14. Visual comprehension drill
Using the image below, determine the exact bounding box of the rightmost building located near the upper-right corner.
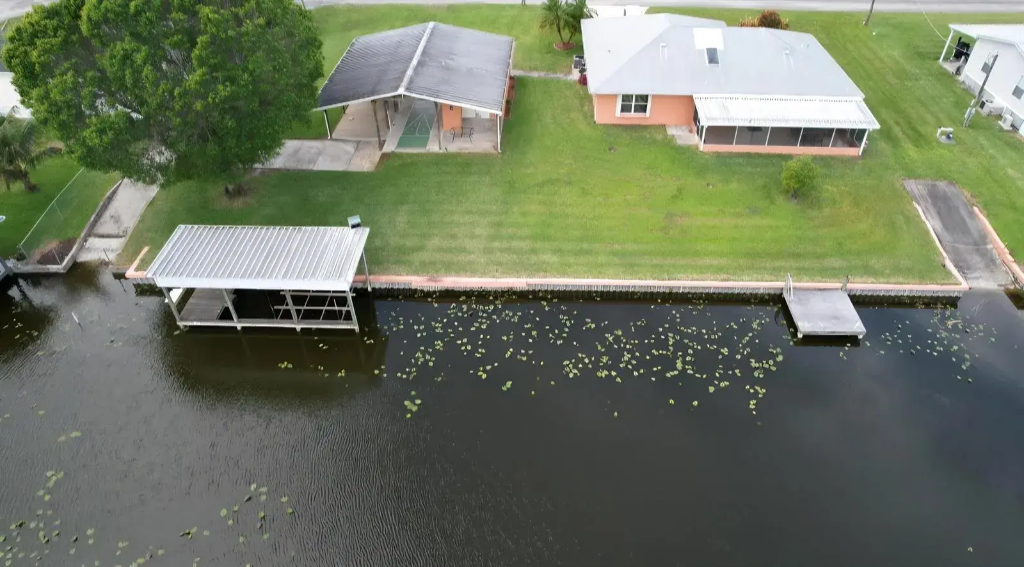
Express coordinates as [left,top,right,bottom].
[927,20,1024,144]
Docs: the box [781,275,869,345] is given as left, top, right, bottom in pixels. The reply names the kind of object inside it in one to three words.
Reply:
pier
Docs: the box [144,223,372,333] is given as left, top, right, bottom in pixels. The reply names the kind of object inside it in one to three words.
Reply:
building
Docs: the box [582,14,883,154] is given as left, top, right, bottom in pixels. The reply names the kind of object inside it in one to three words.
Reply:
house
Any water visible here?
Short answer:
Yes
